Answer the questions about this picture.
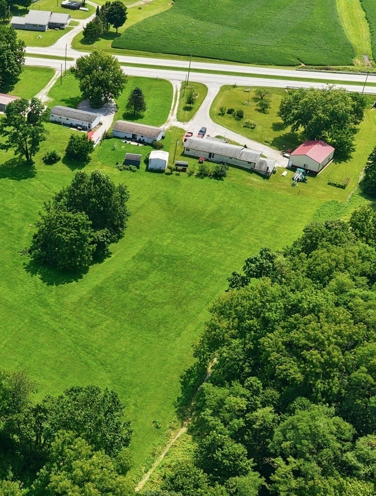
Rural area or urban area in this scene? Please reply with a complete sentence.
The area shown here is rural.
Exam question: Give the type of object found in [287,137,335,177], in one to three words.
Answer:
barn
